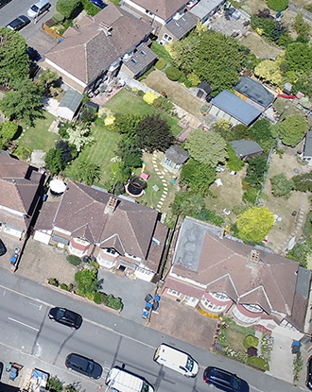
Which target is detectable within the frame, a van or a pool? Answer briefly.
van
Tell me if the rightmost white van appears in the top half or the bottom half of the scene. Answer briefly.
bottom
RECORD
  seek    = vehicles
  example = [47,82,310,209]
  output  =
[0,243,7,257]
[27,0,53,19]
[153,342,200,379]
[201,365,249,392]
[65,353,103,380]
[24,44,46,64]
[305,352,312,392]
[96,0,111,13]
[4,14,32,33]
[104,365,154,392]
[46,307,84,331]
